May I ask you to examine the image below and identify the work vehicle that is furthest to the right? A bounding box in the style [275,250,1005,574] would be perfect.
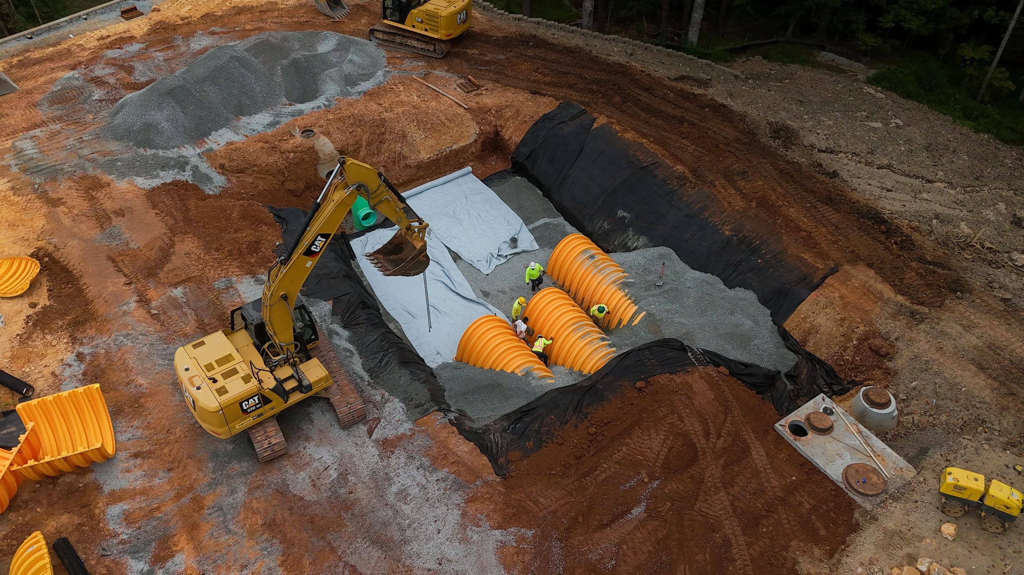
[370,0,485,57]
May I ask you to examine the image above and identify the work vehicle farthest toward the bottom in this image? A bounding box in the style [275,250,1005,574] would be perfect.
[170,149,430,463]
